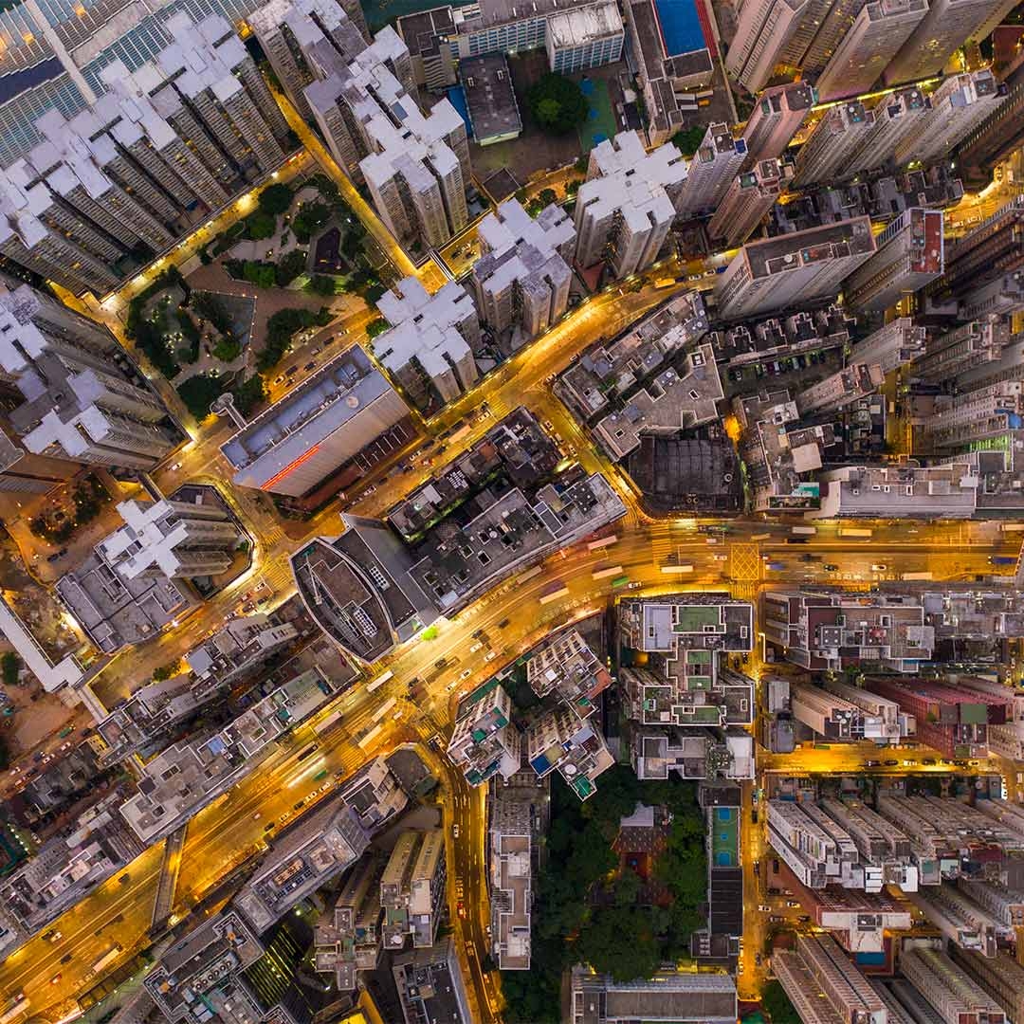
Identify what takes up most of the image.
buildings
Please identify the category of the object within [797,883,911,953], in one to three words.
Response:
building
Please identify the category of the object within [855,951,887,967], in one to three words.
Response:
swimming pool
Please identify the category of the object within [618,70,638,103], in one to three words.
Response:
house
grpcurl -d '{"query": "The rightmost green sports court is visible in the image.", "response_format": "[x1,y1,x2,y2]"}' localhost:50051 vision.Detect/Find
[713,809,737,867]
